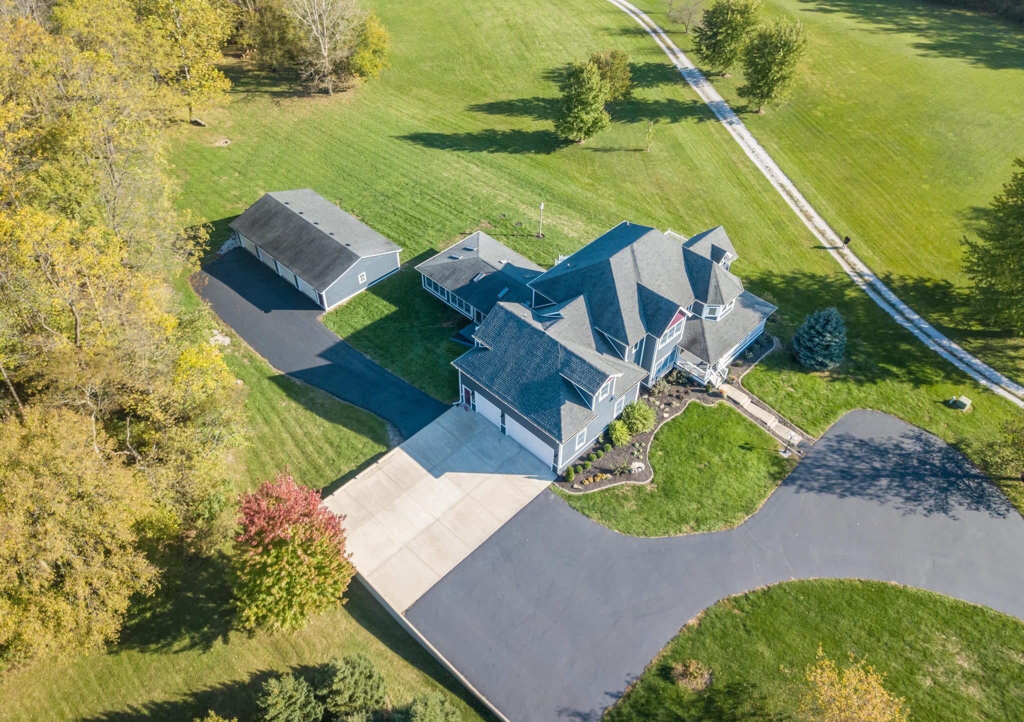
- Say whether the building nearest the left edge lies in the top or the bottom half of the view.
top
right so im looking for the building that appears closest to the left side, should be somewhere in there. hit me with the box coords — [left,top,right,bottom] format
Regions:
[233,191,403,311]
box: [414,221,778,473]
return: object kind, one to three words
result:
house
